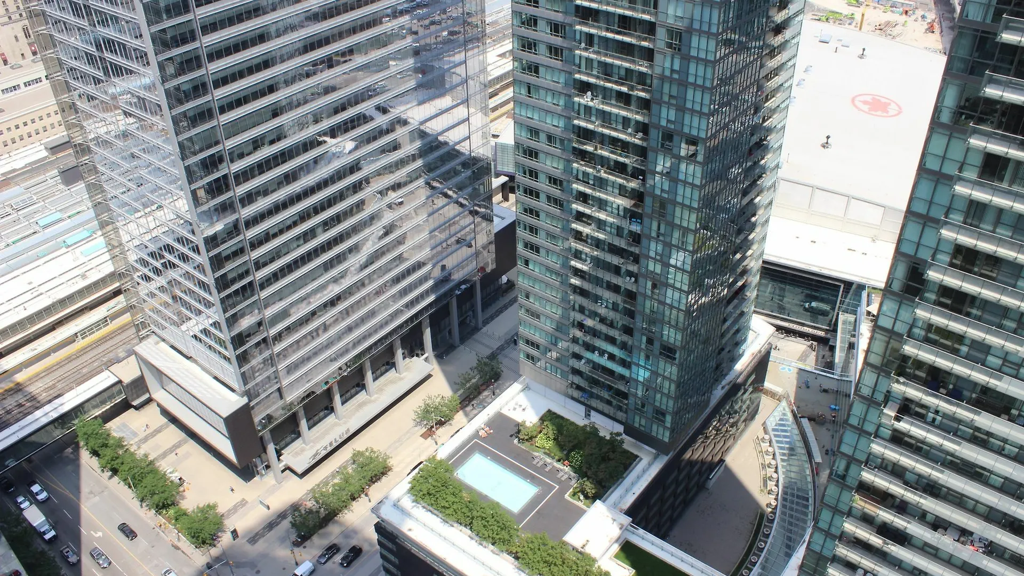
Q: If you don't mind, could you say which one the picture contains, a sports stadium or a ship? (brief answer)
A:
sports stadium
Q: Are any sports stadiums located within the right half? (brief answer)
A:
Yes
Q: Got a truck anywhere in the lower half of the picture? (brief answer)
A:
Yes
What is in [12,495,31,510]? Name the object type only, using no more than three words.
car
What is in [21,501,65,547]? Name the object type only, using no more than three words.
truck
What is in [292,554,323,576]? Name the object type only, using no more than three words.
vehicle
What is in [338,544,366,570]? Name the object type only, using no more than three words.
car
